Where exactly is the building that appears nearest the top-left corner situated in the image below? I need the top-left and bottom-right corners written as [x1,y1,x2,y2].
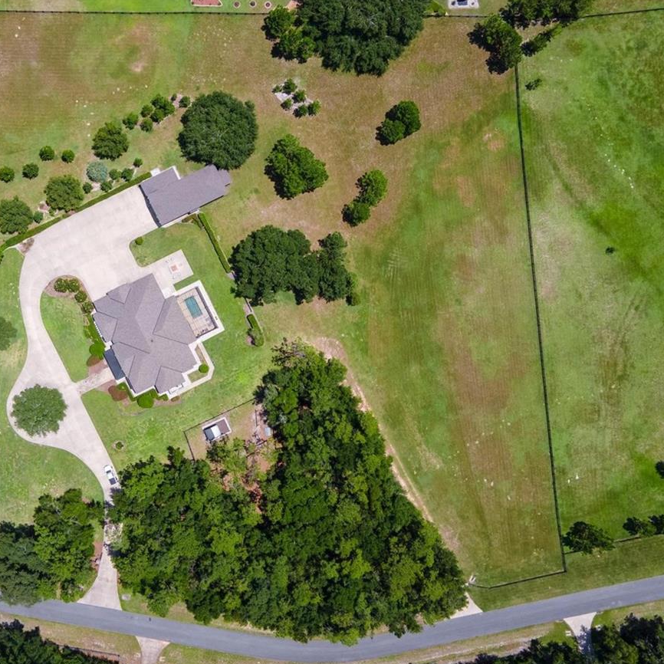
[139,165,233,227]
